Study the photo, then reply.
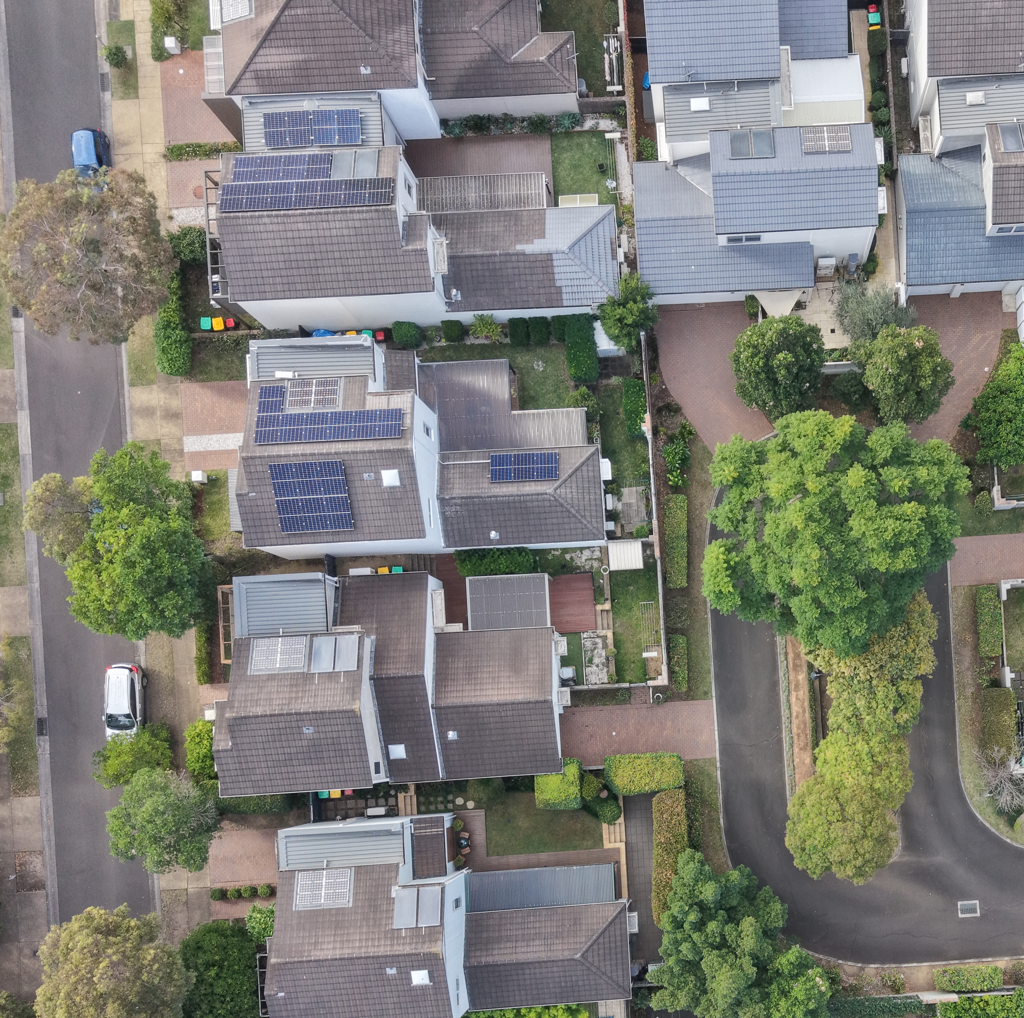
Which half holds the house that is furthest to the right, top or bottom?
top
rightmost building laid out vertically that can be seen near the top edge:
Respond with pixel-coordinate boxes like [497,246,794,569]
[898,0,1024,297]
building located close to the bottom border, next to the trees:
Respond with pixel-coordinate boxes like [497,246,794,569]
[257,813,638,1018]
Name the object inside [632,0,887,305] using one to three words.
house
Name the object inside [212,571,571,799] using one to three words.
house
